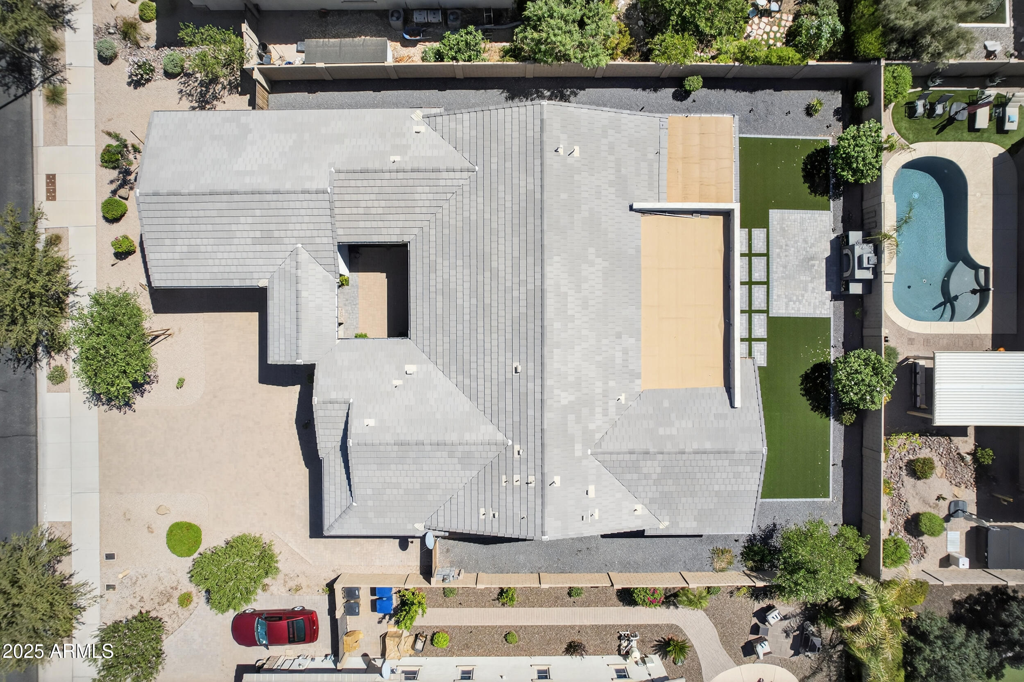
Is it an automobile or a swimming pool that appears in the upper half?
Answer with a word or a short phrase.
swimming pool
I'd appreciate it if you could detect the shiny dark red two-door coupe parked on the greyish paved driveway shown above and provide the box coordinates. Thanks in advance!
[233,607,320,654]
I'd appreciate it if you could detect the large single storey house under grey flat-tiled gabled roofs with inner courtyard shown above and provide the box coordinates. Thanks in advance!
[134,98,768,543]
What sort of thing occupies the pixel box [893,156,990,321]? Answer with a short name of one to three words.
swimming pool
